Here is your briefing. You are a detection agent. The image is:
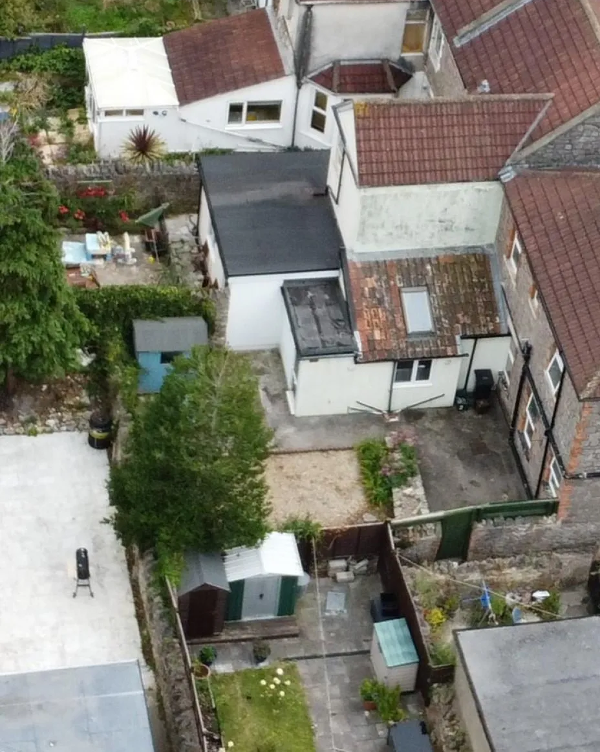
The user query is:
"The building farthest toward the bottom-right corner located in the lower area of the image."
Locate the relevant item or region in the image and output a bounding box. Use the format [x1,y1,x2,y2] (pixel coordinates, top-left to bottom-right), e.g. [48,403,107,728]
[452,614,600,752]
